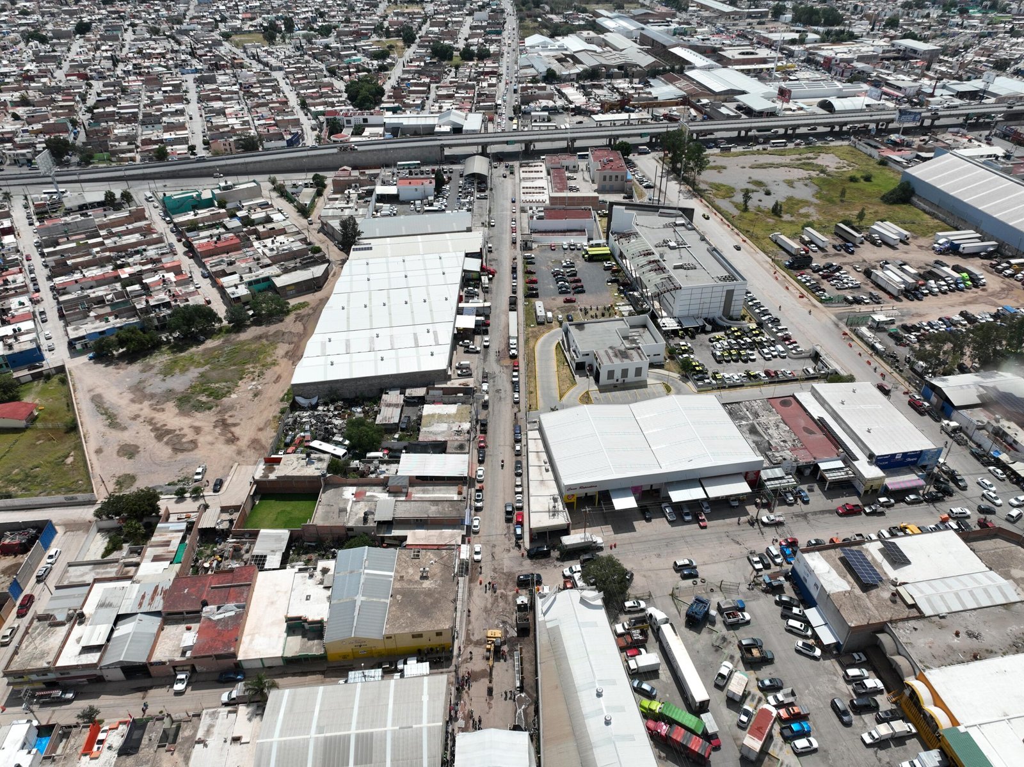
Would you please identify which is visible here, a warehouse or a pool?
warehouse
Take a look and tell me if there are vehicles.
Yes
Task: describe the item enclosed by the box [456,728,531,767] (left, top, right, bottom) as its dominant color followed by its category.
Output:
white tent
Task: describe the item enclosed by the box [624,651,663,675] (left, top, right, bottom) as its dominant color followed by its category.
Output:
white truck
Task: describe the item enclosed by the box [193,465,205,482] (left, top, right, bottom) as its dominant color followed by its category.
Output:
white vehicle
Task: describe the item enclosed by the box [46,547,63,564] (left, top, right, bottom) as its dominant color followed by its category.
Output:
white car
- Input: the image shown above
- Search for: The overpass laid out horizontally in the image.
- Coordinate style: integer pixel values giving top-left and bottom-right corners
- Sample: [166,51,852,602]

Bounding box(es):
[0,97,1024,187]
